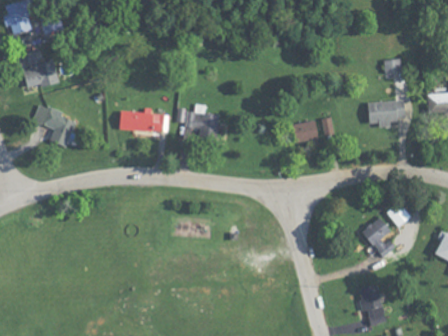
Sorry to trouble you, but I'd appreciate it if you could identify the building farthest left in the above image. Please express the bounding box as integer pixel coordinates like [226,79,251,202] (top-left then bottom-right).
[3,0,32,35]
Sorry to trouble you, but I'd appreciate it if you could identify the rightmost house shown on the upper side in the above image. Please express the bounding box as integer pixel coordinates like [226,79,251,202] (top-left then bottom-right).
[428,88,448,118]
